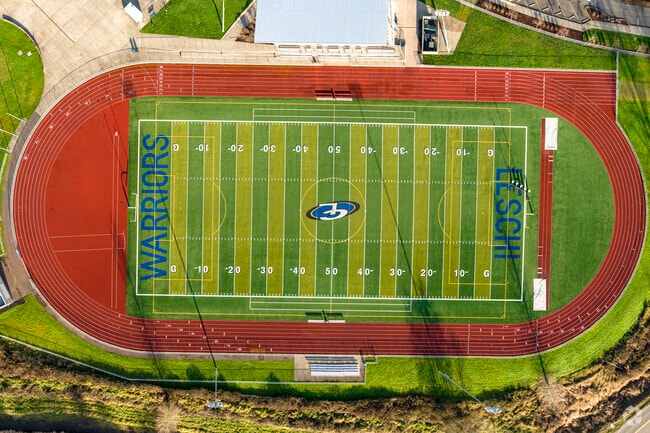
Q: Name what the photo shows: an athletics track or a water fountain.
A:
athletics track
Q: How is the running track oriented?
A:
from left to right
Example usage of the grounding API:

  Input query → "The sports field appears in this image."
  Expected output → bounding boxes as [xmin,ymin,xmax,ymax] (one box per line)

[127,96,614,325]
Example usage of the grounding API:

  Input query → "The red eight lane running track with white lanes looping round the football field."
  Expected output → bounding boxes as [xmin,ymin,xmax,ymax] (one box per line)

[13,63,647,357]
